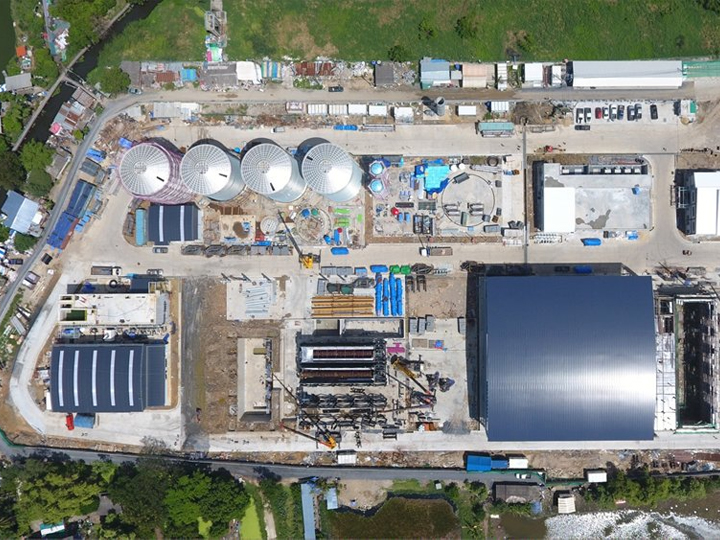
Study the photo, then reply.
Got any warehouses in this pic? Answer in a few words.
Yes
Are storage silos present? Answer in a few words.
Yes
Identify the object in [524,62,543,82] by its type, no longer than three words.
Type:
house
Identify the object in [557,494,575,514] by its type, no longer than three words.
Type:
shed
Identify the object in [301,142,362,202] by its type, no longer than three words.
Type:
silo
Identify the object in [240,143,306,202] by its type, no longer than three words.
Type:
silo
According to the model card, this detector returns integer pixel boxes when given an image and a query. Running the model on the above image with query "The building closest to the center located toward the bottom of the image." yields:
[296,333,390,386]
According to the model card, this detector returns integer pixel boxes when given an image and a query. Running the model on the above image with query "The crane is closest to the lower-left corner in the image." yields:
[274,371,336,454]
